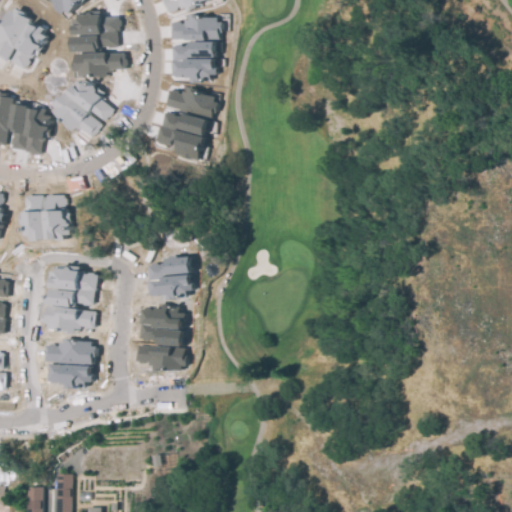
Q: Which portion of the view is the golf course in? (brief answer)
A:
center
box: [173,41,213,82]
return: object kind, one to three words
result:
house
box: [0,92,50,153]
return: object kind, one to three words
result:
house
